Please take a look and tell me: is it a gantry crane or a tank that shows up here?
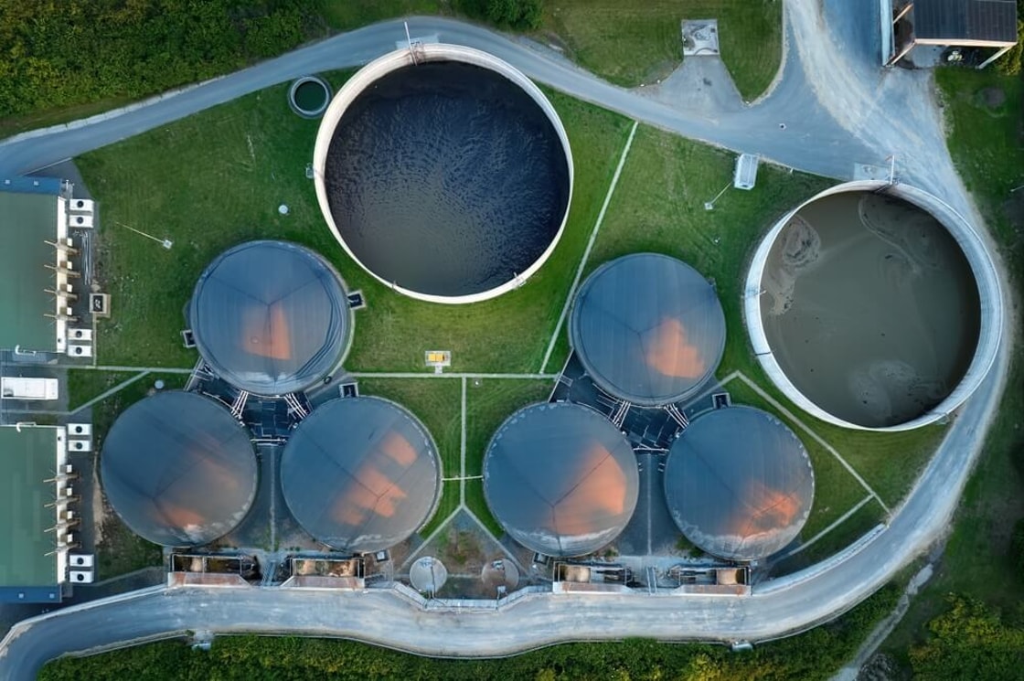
tank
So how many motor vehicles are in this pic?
1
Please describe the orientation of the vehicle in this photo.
from side to side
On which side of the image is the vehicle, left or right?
left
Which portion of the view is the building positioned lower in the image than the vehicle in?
bottom left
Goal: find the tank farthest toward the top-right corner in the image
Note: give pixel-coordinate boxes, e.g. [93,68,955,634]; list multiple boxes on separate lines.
[745,155,1003,429]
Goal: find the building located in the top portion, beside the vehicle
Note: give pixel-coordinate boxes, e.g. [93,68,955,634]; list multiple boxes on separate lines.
[0,178,80,362]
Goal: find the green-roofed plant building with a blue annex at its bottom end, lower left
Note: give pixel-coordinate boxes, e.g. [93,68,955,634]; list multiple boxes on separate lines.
[0,421,80,602]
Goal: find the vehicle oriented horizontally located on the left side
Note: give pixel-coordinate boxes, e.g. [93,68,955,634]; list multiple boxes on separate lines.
[2,374,72,401]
